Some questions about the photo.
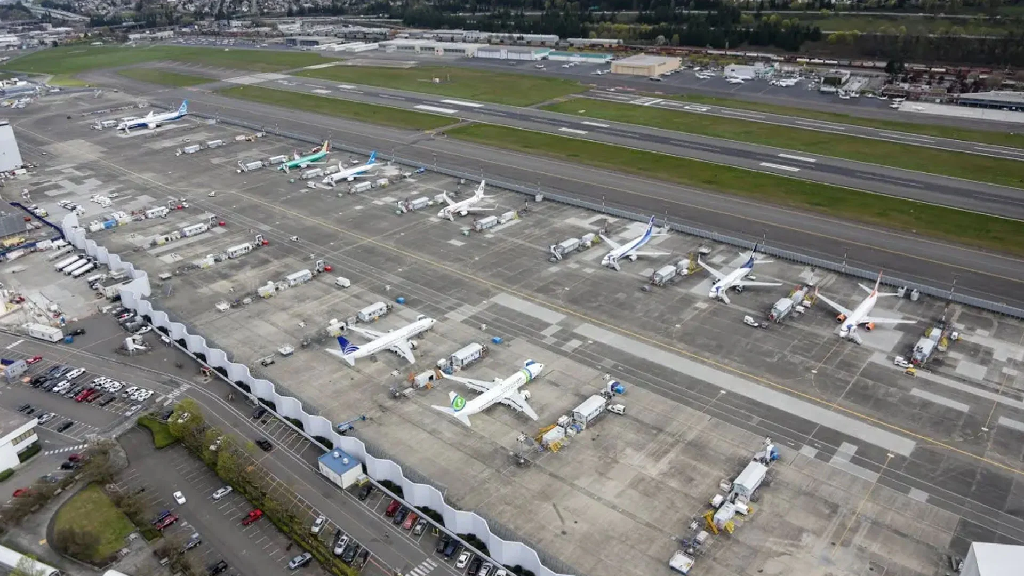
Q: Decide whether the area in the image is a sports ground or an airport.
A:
airport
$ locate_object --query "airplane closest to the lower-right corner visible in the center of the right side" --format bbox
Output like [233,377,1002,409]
[814,274,915,338]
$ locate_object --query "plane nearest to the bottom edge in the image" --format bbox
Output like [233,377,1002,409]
[443,363,543,425]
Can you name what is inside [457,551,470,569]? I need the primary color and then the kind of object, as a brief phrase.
white vehicle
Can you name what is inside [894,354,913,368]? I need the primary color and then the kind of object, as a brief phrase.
white vehicle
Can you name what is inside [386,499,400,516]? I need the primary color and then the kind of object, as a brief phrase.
red car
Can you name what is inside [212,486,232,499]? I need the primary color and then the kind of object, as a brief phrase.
gray vehicle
